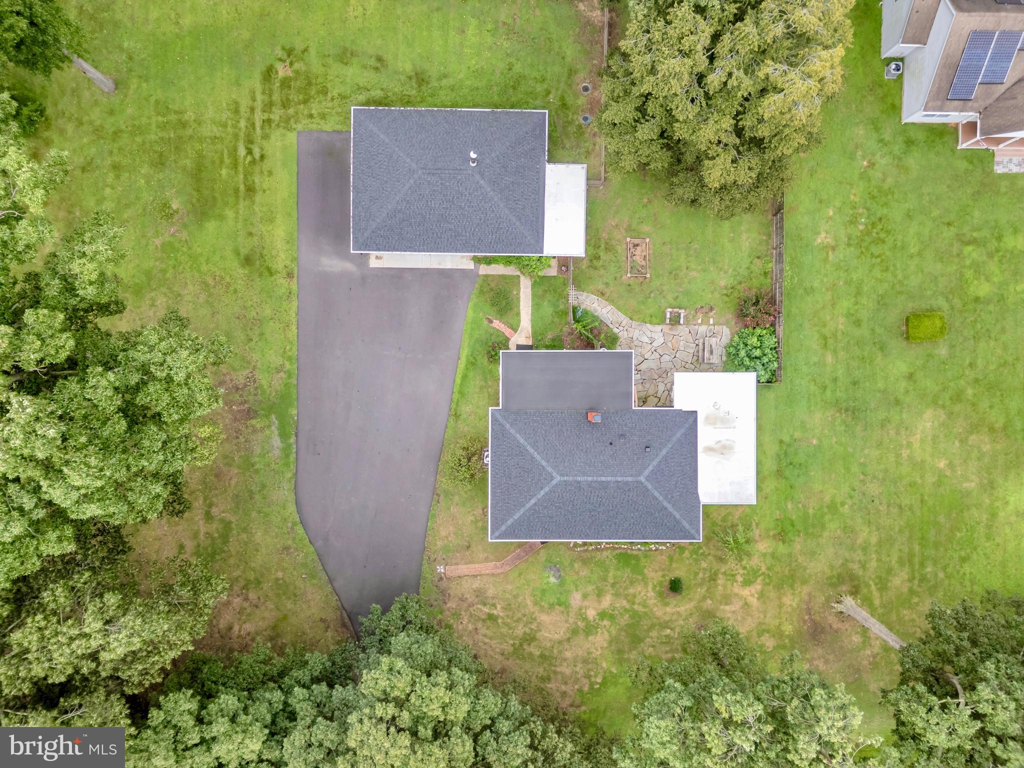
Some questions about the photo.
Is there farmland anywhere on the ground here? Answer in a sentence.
No, there is no farmland in the image.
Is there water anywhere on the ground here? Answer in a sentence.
No, there is no water in the image.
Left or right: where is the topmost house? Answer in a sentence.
The topmost house is on the right side of the image.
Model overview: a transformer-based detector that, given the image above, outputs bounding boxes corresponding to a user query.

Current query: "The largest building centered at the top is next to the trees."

[351,106,587,258]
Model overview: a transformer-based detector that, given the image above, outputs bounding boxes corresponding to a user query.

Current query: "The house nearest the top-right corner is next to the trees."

[881,0,1024,159]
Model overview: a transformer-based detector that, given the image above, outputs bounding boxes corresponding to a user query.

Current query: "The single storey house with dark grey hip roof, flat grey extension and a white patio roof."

[489,349,757,542]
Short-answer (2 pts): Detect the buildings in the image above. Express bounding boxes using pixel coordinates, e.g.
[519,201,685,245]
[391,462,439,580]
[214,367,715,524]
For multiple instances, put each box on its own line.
[351,106,587,258]
[489,349,757,542]
[881,0,1024,159]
